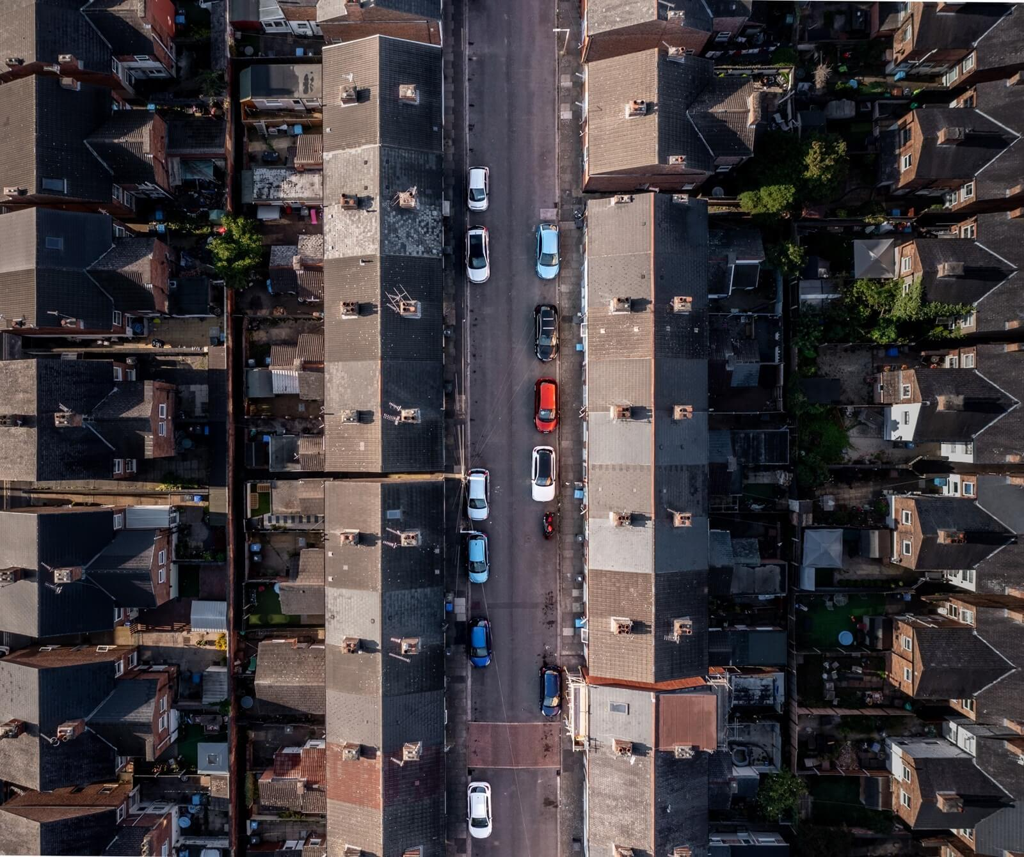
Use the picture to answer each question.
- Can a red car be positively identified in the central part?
Yes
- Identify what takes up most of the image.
buildings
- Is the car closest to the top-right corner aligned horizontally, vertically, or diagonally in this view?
vertically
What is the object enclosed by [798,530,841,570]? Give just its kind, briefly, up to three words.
gazebo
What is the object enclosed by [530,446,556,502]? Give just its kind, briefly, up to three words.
car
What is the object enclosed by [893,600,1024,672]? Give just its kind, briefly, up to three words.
house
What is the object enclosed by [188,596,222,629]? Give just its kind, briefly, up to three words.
shed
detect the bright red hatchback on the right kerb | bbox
[534,378,560,434]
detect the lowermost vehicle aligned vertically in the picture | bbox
[463,782,489,838]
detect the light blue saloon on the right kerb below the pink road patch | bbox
[536,223,563,281]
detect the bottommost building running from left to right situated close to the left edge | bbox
[0,784,173,857]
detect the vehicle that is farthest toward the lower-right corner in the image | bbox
[536,666,561,717]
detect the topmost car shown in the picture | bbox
[468,166,492,211]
